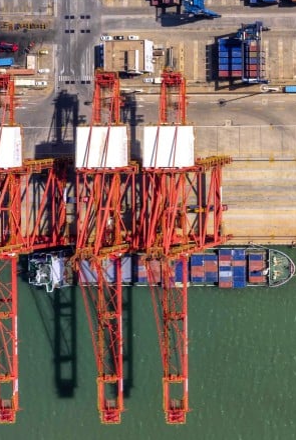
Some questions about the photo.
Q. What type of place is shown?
port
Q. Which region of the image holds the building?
top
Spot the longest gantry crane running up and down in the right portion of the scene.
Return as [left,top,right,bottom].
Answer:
[141,68,236,425]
